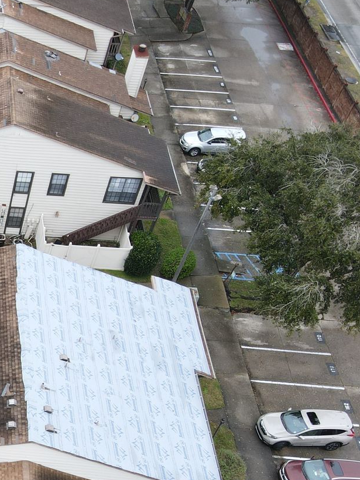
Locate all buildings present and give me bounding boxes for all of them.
[0,0,180,252]
[0,244,225,480]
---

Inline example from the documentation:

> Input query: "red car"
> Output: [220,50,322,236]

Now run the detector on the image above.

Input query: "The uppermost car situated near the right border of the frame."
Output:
[260,405,356,450]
